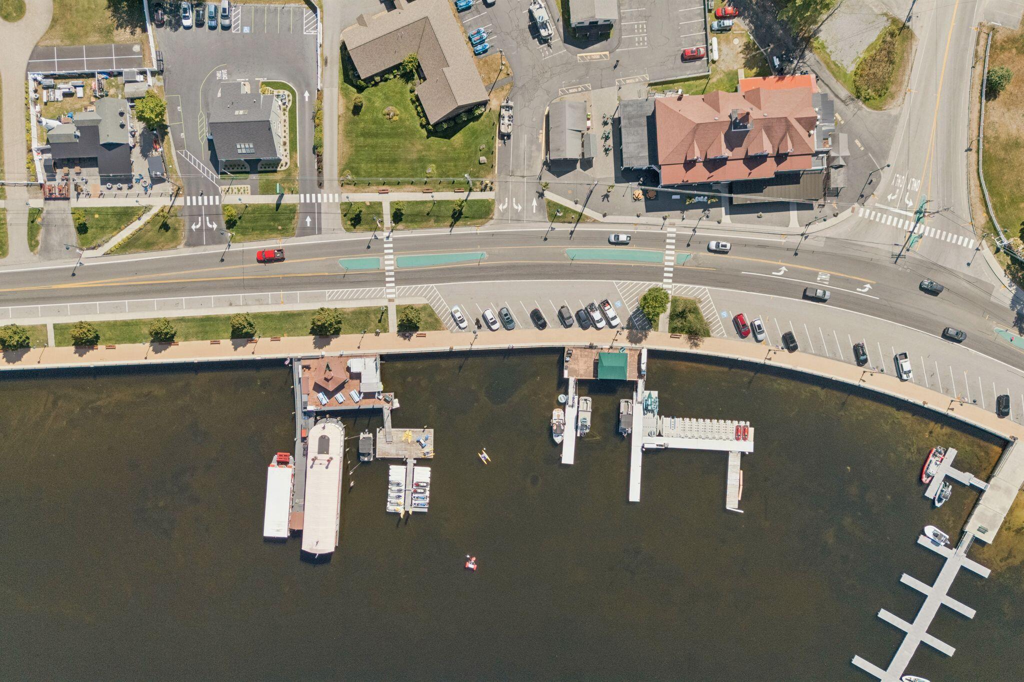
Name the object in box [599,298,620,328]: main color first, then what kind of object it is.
white truck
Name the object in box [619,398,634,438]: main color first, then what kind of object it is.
gray boat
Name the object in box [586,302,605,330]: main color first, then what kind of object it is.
white vehicle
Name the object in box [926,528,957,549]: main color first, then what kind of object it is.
white boat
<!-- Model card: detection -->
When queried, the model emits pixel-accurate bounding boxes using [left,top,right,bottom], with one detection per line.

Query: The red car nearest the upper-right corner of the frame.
[714,7,739,19]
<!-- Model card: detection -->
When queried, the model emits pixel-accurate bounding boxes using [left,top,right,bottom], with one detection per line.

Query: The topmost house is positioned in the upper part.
[570,0,618,39]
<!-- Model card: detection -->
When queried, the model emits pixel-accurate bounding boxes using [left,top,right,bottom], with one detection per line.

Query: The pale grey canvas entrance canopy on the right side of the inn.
[828,133,850,168]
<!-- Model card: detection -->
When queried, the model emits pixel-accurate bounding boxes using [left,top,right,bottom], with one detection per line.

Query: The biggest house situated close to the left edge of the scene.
[47,97,137,175]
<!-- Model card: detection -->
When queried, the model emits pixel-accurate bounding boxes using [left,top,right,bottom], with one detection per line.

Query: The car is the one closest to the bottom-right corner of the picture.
[995,394,1011,418]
